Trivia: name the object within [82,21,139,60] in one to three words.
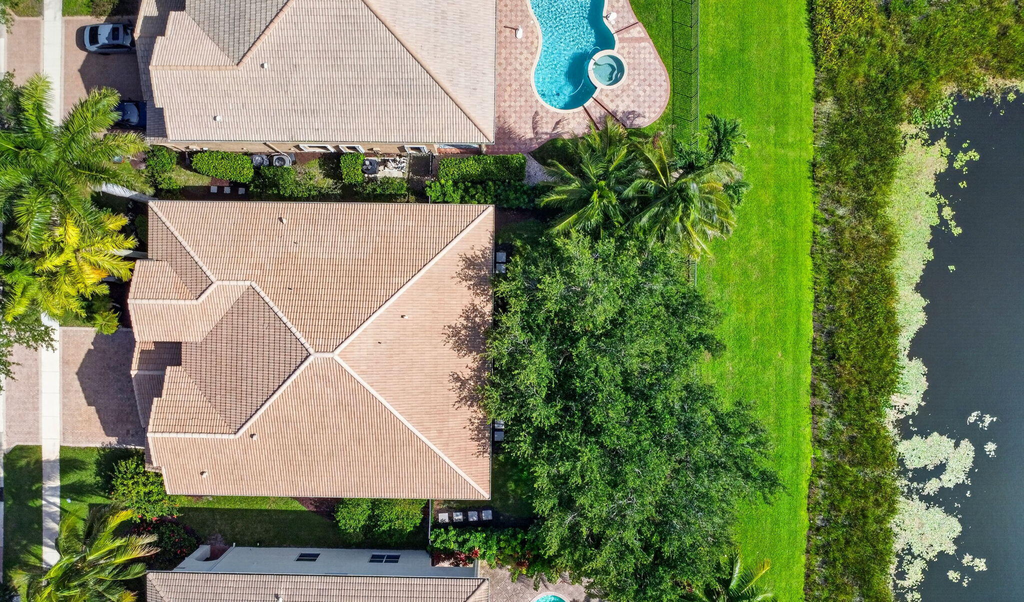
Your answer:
car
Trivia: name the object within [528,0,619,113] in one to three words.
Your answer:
swimming pool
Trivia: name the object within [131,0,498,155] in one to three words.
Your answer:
house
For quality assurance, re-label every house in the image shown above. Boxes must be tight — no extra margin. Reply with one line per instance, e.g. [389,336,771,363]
[131,0,498,155]
[123,200,496,501]
[144,545,493,602]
